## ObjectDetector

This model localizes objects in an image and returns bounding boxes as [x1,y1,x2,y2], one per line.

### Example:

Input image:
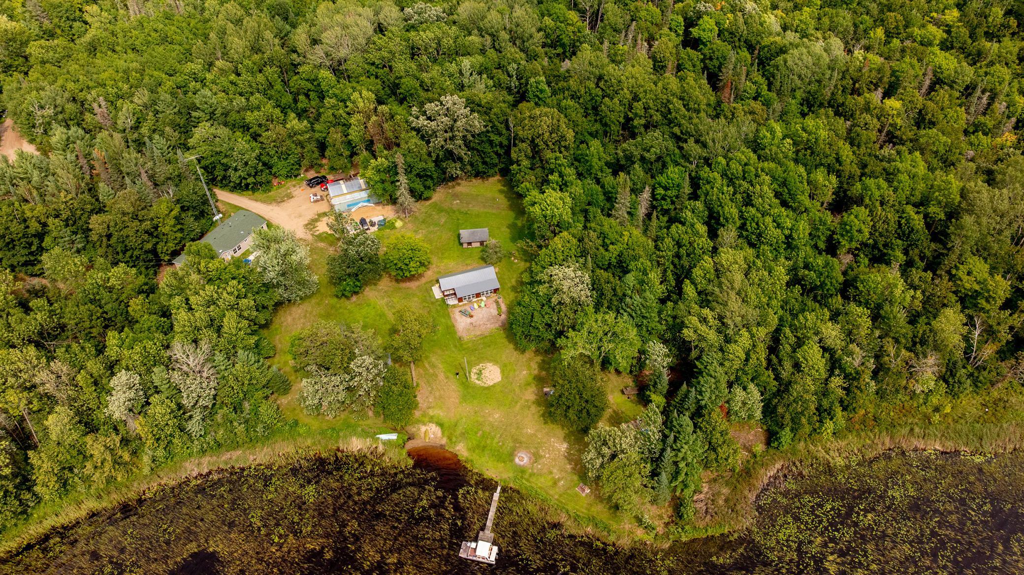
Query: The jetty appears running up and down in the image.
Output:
[478,484,501,547]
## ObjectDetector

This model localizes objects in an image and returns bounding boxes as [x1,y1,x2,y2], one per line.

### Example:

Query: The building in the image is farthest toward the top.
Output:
[326,174,384,212]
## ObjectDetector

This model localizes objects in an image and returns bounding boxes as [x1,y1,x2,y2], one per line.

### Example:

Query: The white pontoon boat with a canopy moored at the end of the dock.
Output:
[460,542,500,565]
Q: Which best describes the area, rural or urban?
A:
rural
